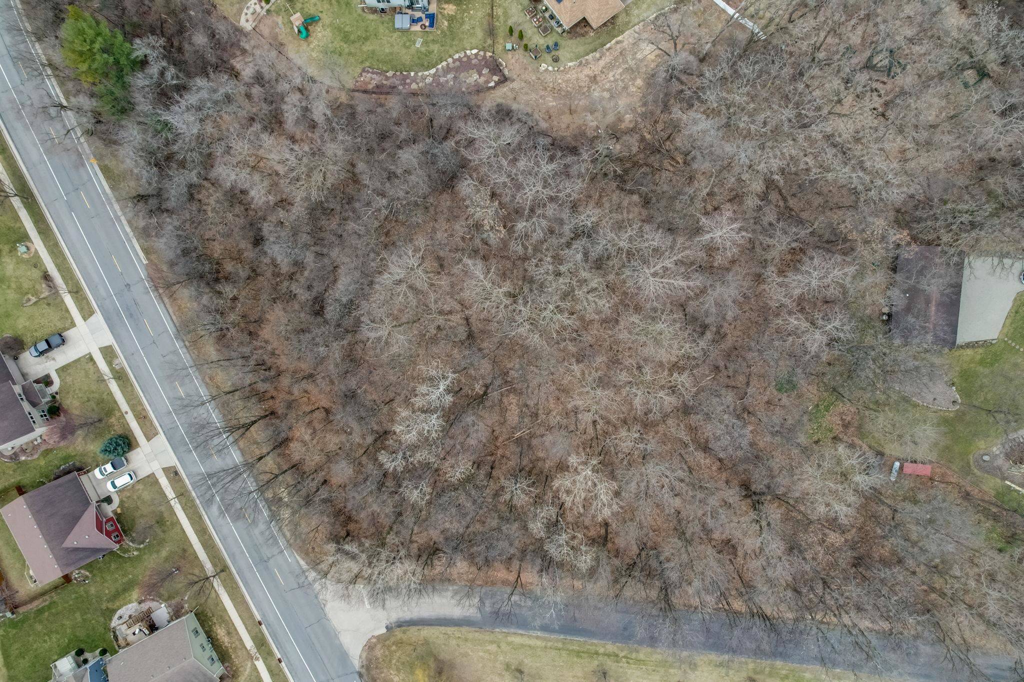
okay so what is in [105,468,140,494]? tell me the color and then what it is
white car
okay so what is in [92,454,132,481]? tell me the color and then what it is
white truck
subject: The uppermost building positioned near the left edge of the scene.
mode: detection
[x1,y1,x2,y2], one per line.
[0,347,65,453]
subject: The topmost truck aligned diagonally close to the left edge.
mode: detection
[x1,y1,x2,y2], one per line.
[27,330,69,360]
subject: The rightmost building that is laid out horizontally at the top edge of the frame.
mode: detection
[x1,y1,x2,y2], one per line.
[539,0,625,35]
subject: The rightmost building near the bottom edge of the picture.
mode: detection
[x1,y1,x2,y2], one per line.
[96,607,227,682]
